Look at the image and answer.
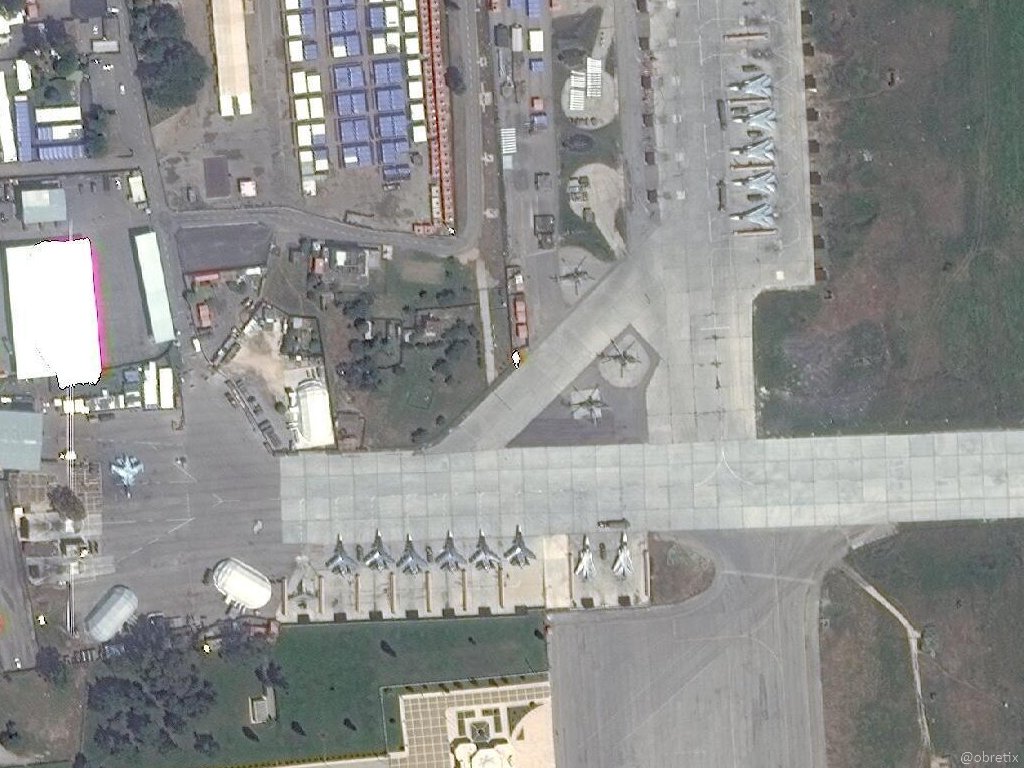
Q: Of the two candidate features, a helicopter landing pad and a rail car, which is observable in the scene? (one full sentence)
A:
Visible in the photo is a helicopter landing pad.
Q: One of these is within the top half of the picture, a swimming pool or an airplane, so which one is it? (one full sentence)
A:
Looking within the top half of the picture, you will find an airplane.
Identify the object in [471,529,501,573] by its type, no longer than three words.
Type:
airplane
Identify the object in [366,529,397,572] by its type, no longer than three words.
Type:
airplane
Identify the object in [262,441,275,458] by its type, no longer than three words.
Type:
vehicle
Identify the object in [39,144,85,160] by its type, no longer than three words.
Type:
shed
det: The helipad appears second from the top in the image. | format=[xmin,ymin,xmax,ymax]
[598,334,650,388]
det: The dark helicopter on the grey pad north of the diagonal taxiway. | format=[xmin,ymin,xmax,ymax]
[550,257,596,296]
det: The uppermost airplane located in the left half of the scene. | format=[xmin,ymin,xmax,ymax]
[112,453,144,497]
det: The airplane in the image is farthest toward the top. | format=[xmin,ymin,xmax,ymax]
[731,76,774,99]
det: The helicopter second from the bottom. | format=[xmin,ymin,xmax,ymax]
[596,340,642,378]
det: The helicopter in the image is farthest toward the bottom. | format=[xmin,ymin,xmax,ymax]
[564,383,610,422]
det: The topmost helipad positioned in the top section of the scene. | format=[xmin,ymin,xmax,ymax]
[556,243,614,304]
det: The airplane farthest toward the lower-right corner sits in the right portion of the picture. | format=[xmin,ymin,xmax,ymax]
[615,533,634,577]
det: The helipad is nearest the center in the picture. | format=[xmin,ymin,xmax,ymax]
[571,388,601,418]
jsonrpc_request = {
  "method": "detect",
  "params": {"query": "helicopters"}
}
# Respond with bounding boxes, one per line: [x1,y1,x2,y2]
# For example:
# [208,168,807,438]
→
[596,340,642,378]
[550,257,596,296]
[564,383,610,422]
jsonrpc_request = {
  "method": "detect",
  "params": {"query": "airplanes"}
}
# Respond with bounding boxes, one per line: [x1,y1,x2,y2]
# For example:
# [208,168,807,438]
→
[436,530,468,574]
[733,171,776,194]
[733,107,777,130]
[327,534,359,577]
[615,533,634,577]
[577,537,596,581]
[731,76,774,99]
[506,525,538,569]
[112,453,144,497]
[398,535,428,576]
[731,139,774,163]
[471,529,501,573]
[366,529,397,572]
[287,555,318,597]
[730,205,775,228]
